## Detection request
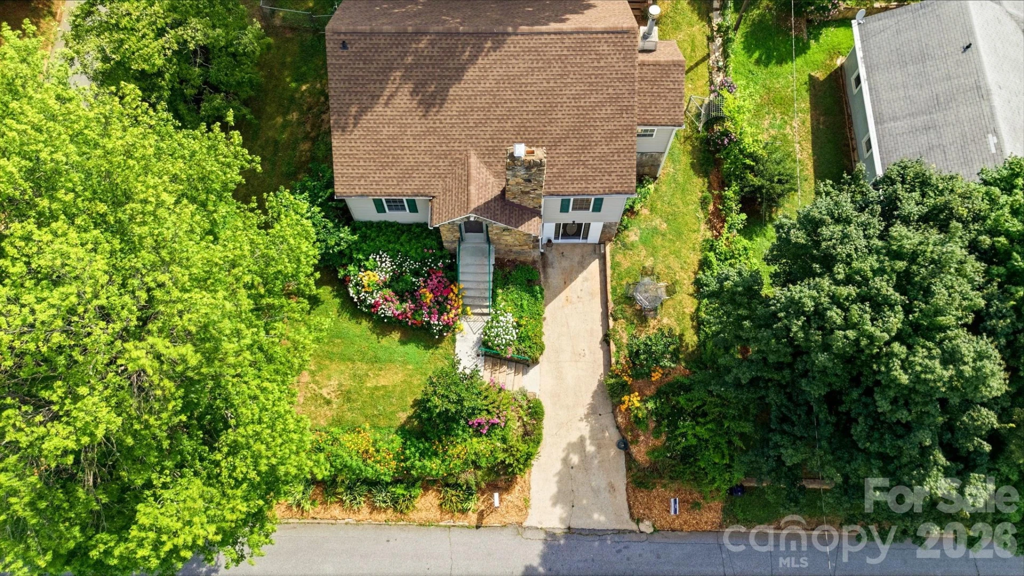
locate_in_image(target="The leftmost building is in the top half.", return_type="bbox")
[327,0,684,262]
